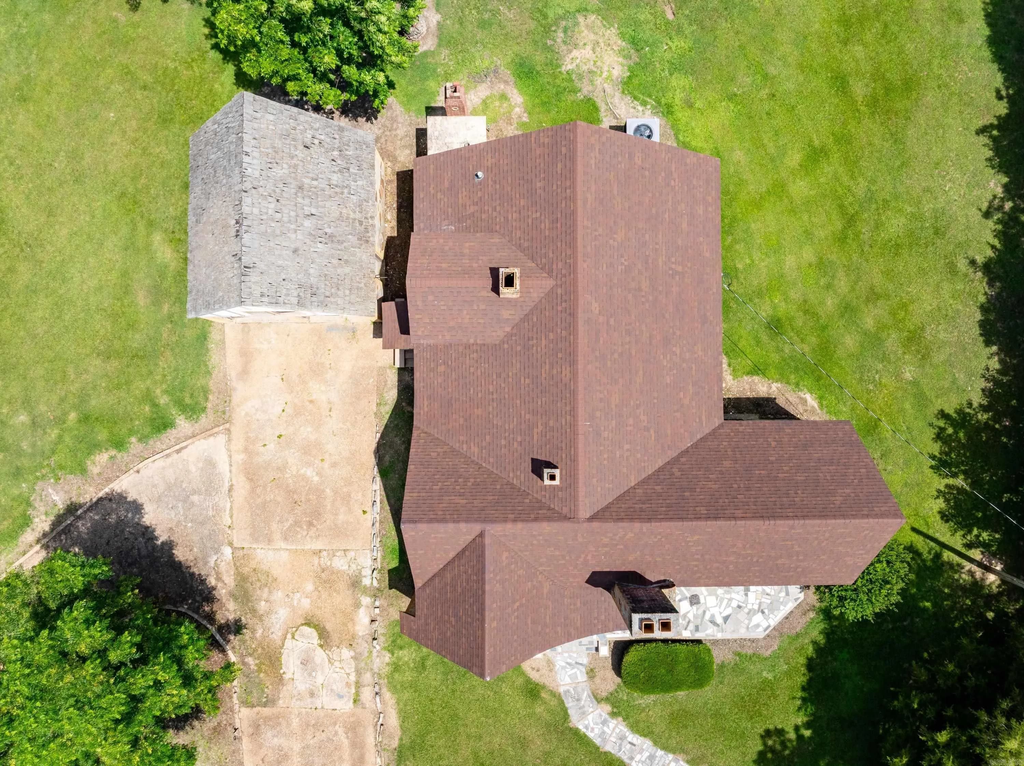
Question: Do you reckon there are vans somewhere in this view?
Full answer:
No, no van is visible in the scene.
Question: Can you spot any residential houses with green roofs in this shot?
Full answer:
No, there is no residential house with a green roof in the image.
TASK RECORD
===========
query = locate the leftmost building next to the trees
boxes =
[189,92,383,322]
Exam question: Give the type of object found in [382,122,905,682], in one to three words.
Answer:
house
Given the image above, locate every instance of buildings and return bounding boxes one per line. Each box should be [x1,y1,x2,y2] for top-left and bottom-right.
[382,122,905,682]
[189,92,383,322]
